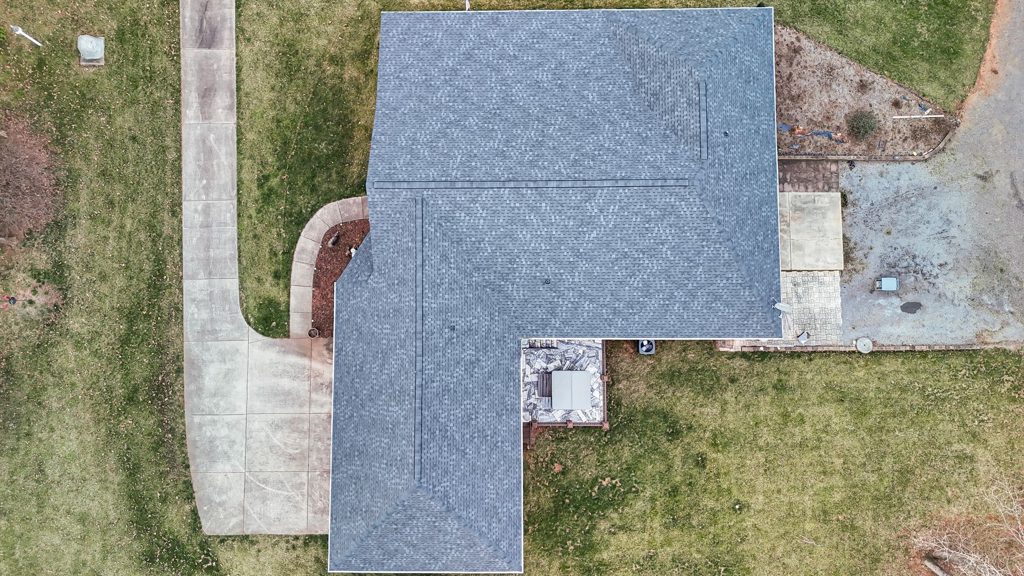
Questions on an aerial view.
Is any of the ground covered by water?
No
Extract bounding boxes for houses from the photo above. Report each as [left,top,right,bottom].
[327,6,784,574]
